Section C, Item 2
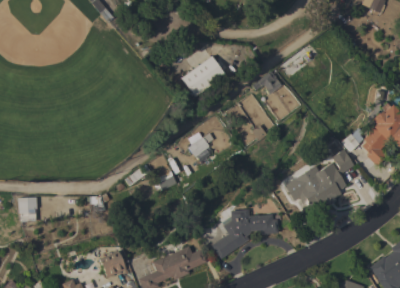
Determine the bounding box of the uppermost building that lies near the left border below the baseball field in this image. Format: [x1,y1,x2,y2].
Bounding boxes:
[18,198,38,222]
